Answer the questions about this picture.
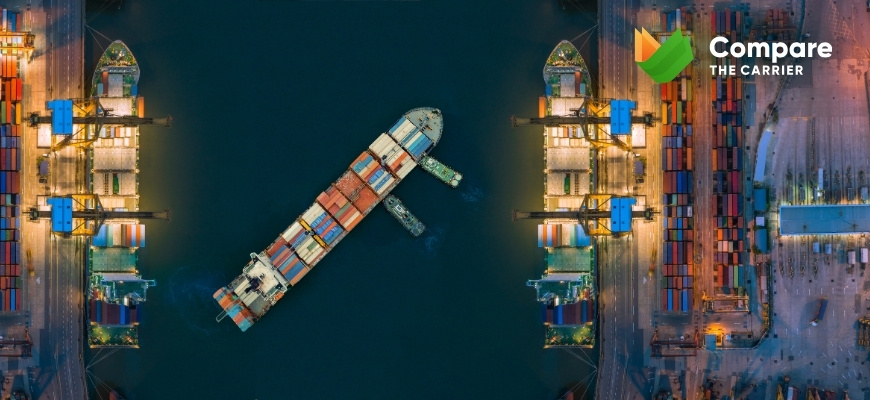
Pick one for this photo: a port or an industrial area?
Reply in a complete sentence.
This looks like a port.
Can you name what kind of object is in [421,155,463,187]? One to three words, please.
boat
